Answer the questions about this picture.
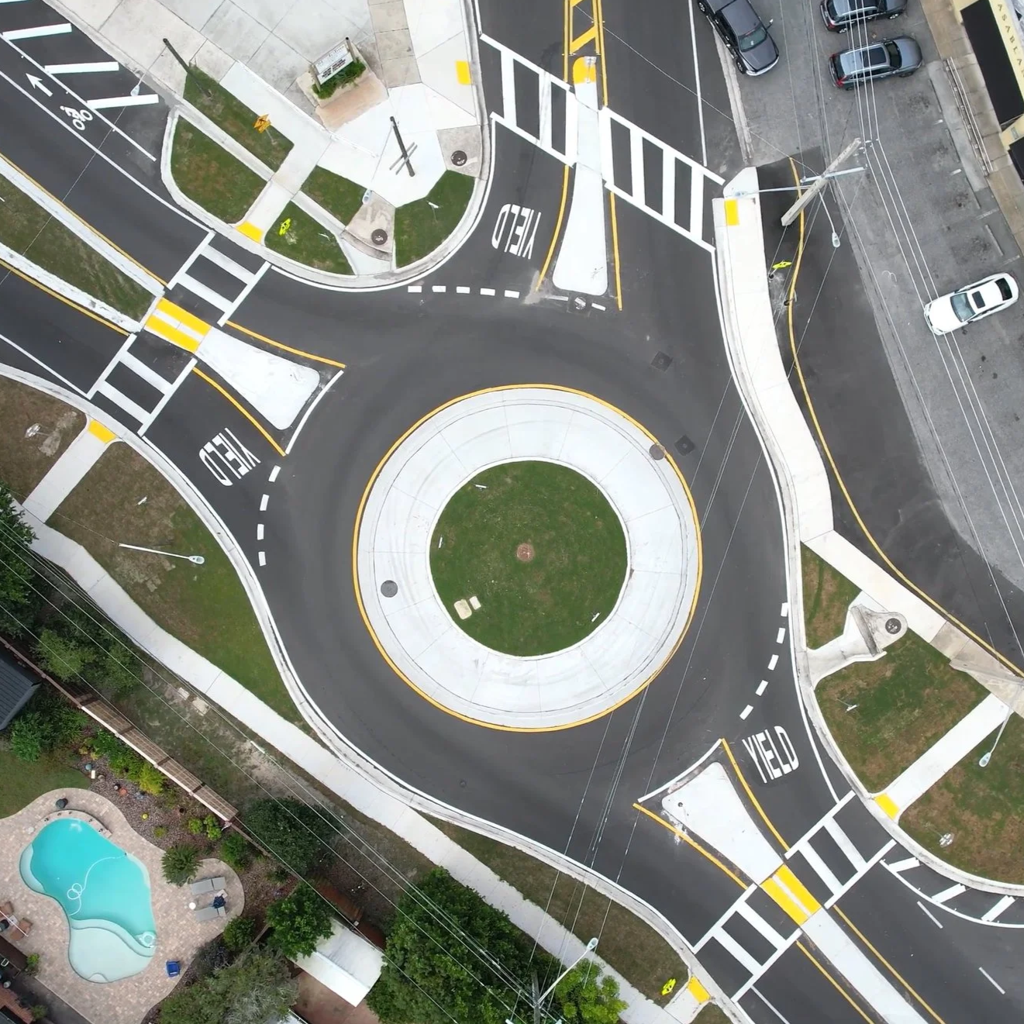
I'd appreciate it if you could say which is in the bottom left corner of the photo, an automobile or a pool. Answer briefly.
pool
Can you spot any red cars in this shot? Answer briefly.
No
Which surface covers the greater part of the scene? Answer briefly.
paved ground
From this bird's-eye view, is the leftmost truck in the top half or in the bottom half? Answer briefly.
top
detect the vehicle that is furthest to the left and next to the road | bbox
[690,0,779,75]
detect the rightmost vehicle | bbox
[920,270,1022,337]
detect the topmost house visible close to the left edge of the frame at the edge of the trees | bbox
[0,643,45,732]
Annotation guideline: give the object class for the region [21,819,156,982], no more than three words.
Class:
swimming pool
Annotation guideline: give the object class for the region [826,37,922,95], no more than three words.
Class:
car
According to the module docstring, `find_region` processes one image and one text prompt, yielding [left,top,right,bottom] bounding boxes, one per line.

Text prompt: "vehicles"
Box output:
[920,270,1022,337]
[813,0,909,40]
[690,0,779,75]
[826,37,922,95]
